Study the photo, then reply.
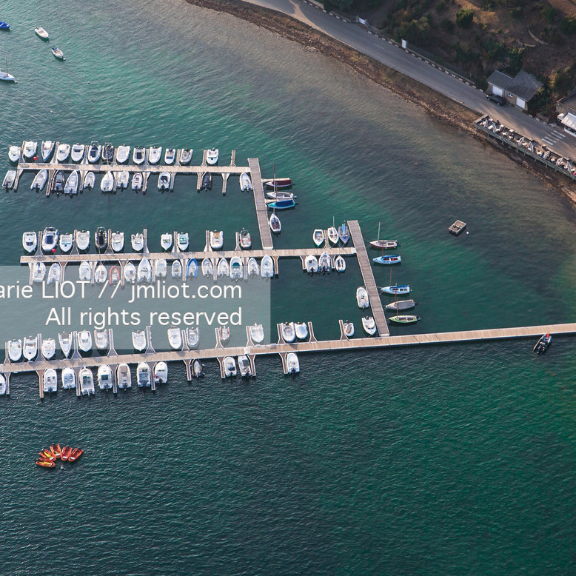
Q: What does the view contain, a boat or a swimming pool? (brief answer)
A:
boat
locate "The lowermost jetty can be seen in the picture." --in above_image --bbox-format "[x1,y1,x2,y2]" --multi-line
[0,319,576,399]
